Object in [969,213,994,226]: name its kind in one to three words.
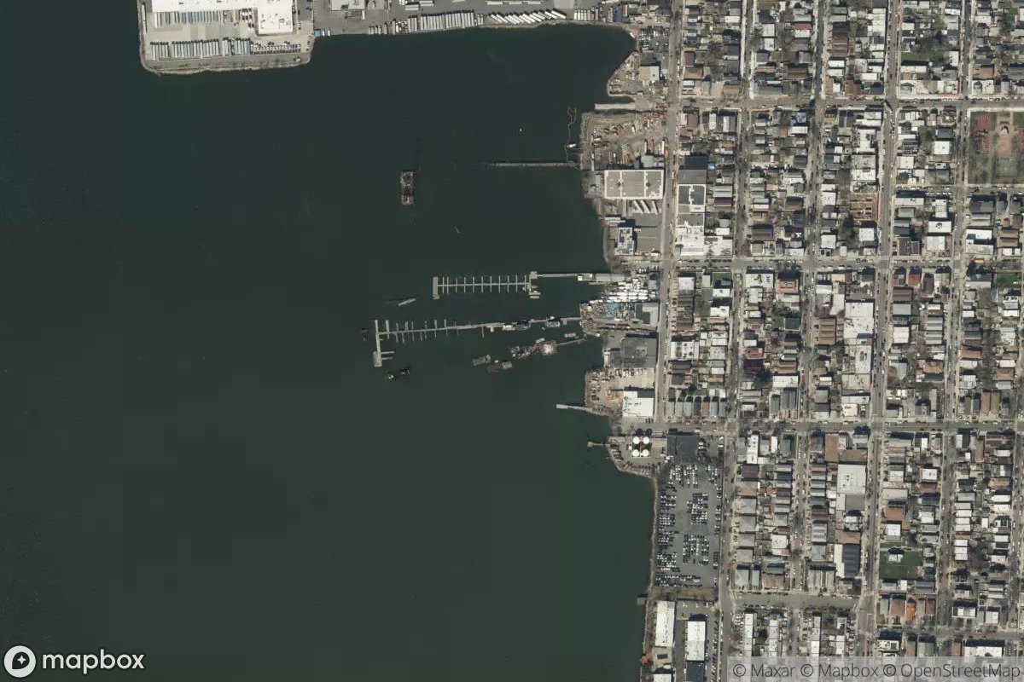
house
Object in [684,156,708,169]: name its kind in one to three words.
house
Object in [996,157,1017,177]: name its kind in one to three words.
sports court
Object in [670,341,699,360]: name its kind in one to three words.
building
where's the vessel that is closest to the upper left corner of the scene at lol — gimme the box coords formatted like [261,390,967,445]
[401,172,413,204]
